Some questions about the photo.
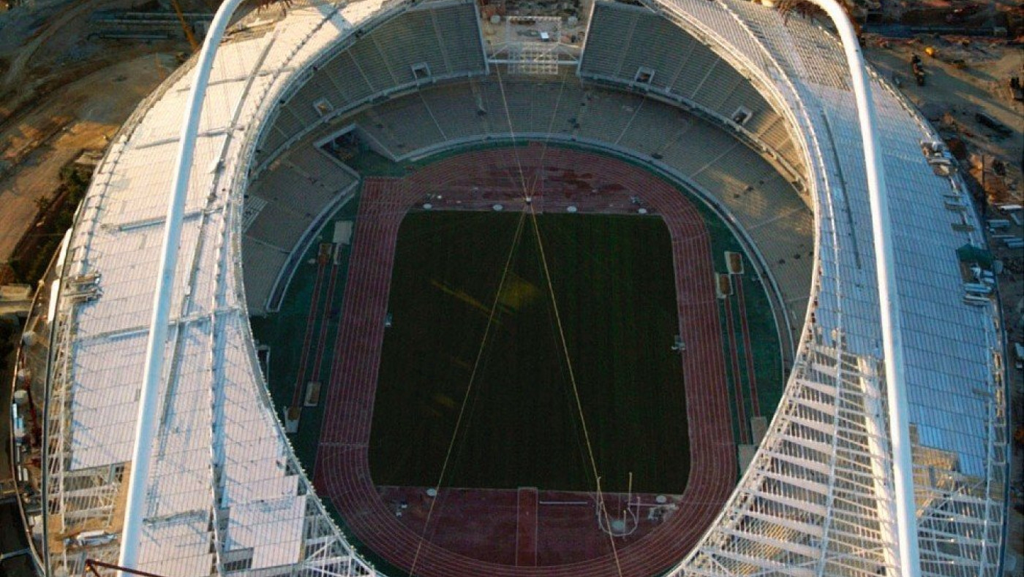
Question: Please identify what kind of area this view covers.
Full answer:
This image shows a sports ground.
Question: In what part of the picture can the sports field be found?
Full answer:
You can find the sports field in the center area of the picture.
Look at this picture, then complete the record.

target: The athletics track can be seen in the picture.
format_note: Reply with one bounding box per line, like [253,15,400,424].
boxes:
[313,146,736,577]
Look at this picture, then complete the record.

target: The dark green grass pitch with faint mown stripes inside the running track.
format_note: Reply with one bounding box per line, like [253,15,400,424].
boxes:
[368,210,690,490]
